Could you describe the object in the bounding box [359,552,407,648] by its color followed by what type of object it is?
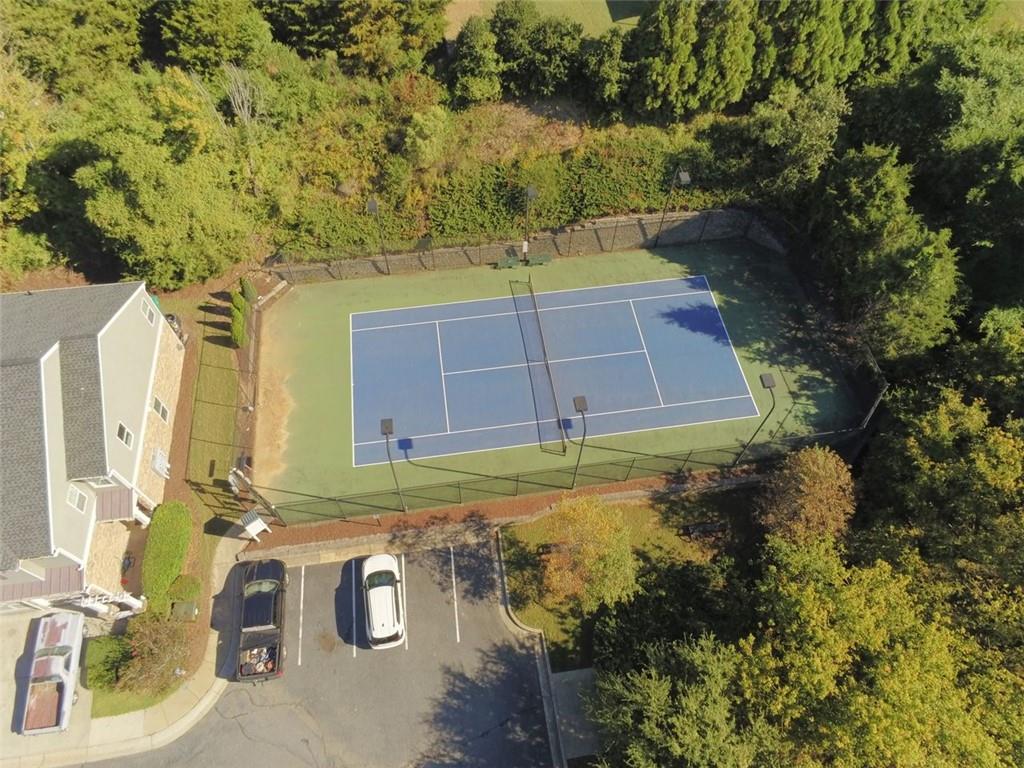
white car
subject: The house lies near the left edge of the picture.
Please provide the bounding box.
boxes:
[0,284,185,626]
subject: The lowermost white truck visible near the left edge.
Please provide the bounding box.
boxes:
[19,609,92,738]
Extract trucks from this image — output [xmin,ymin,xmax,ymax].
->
[19,609,92,738]
[235,557,288,681]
